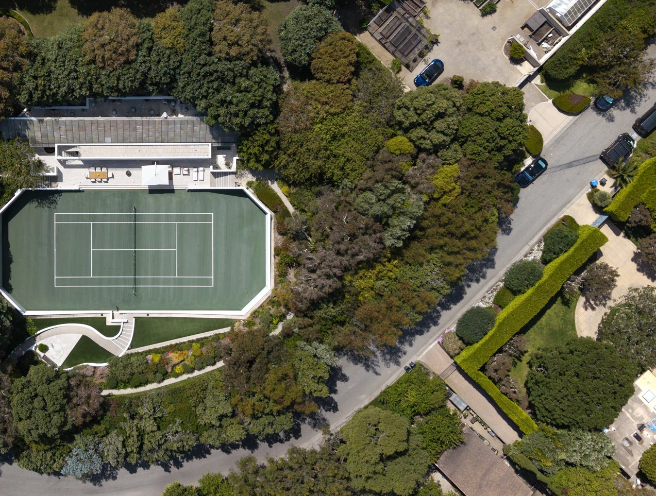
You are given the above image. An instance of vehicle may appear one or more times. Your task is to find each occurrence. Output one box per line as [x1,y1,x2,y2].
[413,58,444,86]
[515,157,547,186]
[633,103,656,135]
[602,134,634,163]
[592,88,622,113]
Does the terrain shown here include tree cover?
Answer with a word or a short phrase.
Yes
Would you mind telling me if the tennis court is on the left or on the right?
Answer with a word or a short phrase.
left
